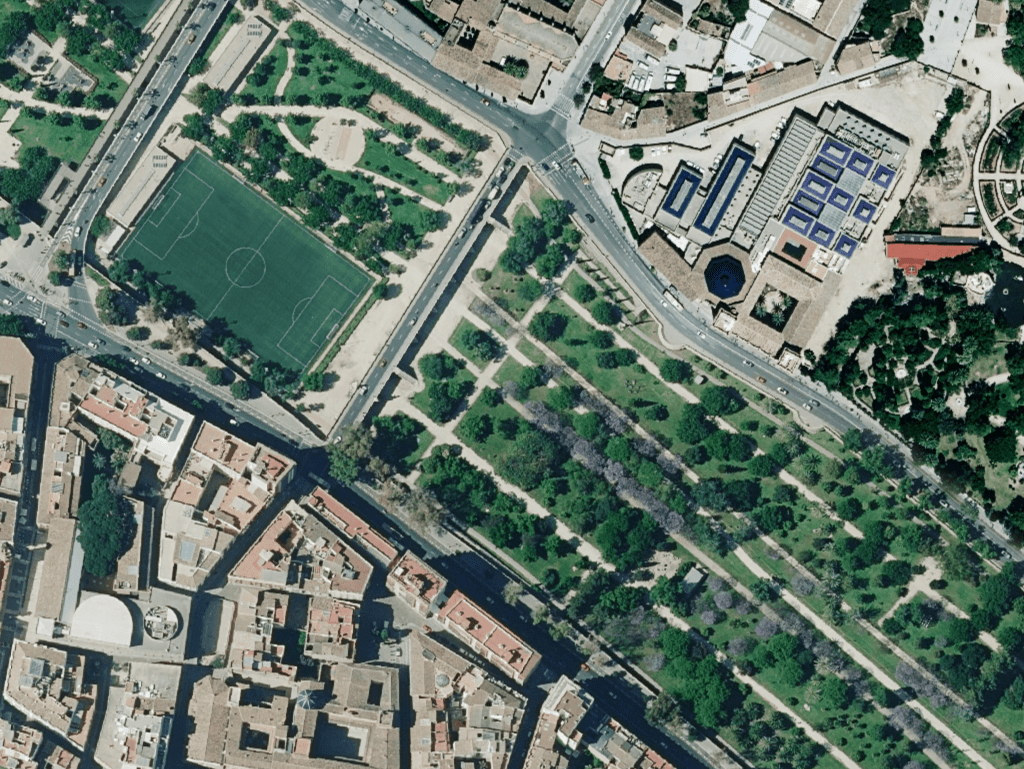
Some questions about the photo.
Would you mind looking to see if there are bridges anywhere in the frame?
Yes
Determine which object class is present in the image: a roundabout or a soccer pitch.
soccer pitch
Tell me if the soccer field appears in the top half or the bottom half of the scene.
top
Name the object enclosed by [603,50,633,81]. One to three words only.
building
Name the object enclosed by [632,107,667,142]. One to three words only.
house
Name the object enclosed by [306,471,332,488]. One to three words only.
vehicle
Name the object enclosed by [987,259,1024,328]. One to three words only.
pond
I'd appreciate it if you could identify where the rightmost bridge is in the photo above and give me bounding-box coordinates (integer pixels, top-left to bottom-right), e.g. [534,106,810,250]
[328,145,537,440]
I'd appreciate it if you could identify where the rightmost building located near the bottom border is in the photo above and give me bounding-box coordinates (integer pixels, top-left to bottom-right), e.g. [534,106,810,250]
[584,718,674,769]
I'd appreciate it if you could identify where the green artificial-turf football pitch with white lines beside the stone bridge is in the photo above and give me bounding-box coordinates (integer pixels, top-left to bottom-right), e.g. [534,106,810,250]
[102,146,378,370]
